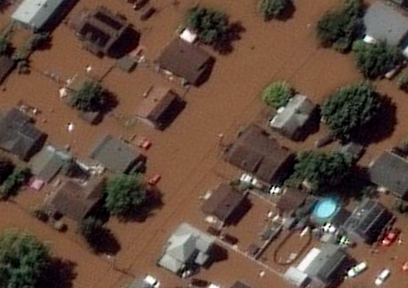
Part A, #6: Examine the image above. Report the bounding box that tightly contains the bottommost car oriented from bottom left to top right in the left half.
[146,173,163,187]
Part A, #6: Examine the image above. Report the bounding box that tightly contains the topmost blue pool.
[314,198,338,221]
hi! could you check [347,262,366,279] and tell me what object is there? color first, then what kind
white vehicle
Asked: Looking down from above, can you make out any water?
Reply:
Yes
